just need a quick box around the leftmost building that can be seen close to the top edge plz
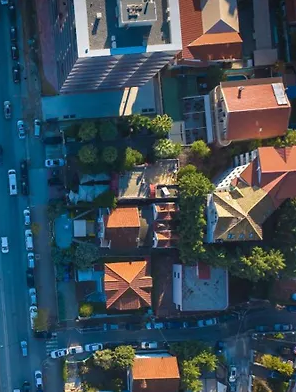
[38,0,182,124]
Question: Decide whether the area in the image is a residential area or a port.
residential area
